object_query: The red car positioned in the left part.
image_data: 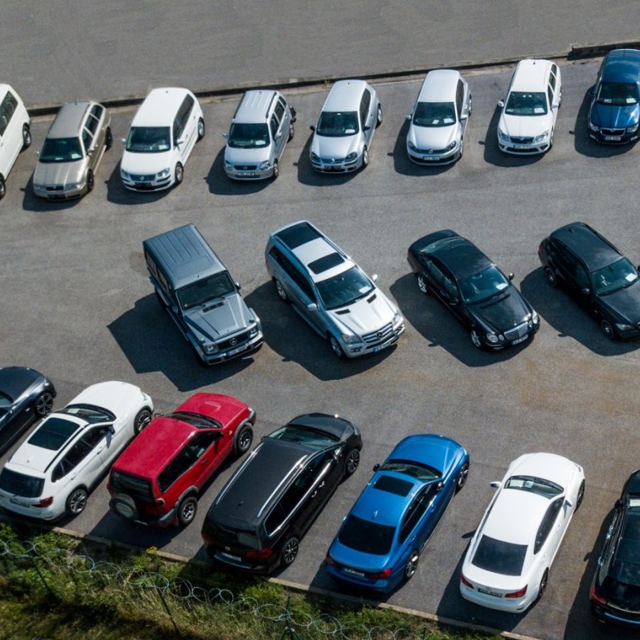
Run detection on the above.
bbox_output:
[106,393,264,536]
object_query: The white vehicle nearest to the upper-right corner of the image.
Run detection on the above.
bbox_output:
[498,56,564,153]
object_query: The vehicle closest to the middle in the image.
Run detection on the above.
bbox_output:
[261,221,403,362]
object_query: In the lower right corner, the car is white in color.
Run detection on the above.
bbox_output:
[460,451,590,614]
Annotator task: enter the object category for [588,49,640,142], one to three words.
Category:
car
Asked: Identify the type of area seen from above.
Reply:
parking lot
